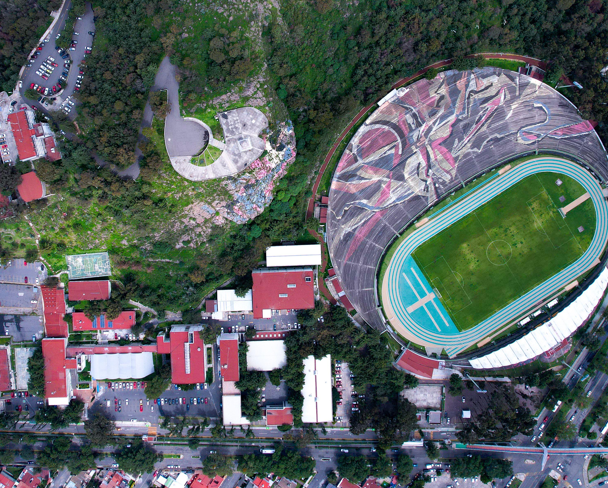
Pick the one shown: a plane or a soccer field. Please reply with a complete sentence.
Visible in the photo is a soccer field.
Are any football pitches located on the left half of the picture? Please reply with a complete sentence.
No, I can find no football pitch on the left half of the picture.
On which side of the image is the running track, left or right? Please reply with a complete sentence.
The running track appears in the right half of the scene.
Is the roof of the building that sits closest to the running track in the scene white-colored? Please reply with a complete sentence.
No, from above the roof of the building that sits closest to the running track looks red.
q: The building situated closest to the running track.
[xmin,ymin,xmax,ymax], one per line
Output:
[395,346,445,379]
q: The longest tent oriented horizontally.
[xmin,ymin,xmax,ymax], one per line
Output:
[90,353,153,380]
